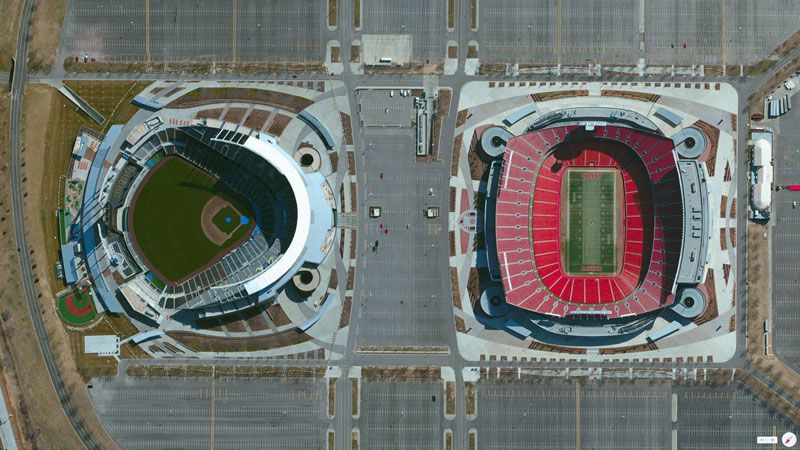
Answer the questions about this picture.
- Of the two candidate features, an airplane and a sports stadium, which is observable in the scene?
sports stadium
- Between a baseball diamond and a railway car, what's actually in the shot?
baseball diamond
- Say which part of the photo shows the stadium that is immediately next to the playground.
left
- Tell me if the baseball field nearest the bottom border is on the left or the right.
left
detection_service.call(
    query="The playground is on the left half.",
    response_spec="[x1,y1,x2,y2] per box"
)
[65,179,84,214]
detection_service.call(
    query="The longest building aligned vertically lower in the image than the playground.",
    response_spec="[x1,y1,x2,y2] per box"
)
[61,245,77,284]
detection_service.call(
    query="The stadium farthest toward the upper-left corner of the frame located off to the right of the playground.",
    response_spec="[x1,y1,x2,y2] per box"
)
[81,116,338,326]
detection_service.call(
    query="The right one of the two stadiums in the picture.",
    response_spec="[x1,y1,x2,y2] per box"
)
[480,107,712,337]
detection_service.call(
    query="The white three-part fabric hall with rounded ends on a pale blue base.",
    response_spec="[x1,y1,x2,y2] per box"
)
[752,132,774,220]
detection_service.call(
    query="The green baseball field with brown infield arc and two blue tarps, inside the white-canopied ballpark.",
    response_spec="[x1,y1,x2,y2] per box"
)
[130,152,259,288]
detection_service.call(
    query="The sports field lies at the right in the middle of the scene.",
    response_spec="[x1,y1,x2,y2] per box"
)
[560,166,623,277]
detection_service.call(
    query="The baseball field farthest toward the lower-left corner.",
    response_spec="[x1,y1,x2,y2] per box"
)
[59,284,98,324]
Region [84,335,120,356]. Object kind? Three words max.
building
